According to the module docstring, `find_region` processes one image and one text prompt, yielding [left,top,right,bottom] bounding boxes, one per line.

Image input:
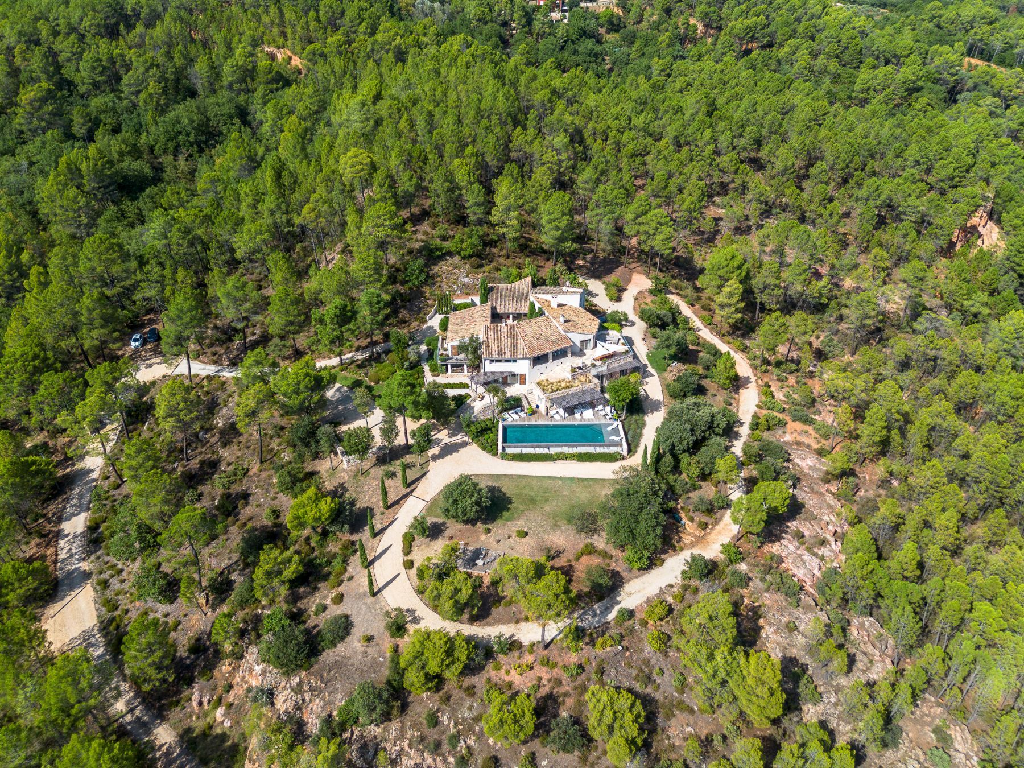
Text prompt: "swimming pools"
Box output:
[499,422,630,460]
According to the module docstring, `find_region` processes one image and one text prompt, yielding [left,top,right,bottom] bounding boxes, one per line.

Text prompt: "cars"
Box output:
[128,333,142,349]
[145,326,159,342]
